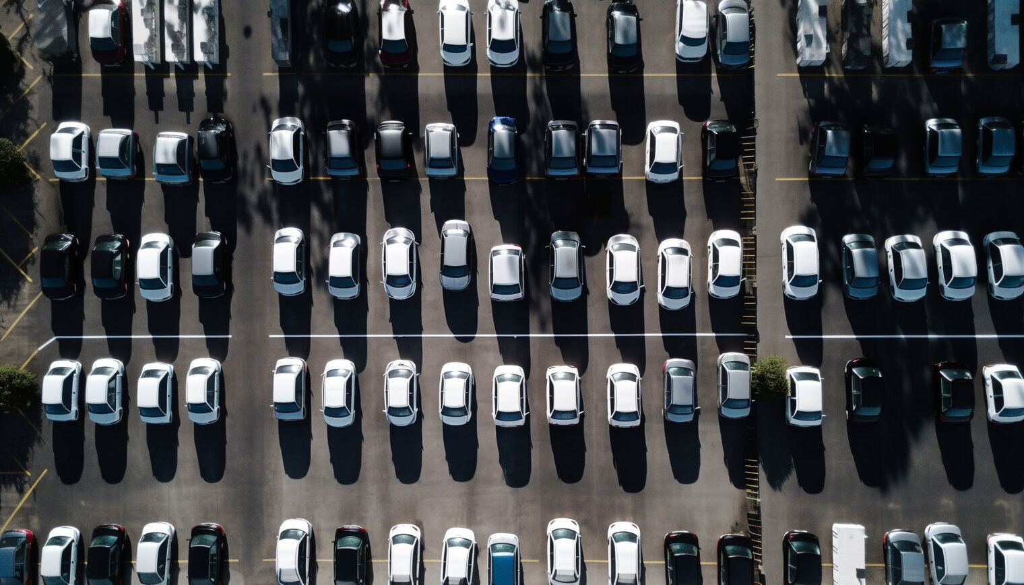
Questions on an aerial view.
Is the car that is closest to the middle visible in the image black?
No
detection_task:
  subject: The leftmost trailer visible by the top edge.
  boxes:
[38,0,84,62]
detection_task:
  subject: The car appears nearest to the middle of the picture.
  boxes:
[488,243,527,302]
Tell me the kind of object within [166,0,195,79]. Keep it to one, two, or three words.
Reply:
trailer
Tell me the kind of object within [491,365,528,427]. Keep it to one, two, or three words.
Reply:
car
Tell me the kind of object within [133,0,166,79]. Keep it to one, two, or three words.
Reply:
trailer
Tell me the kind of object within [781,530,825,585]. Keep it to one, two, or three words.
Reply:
car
